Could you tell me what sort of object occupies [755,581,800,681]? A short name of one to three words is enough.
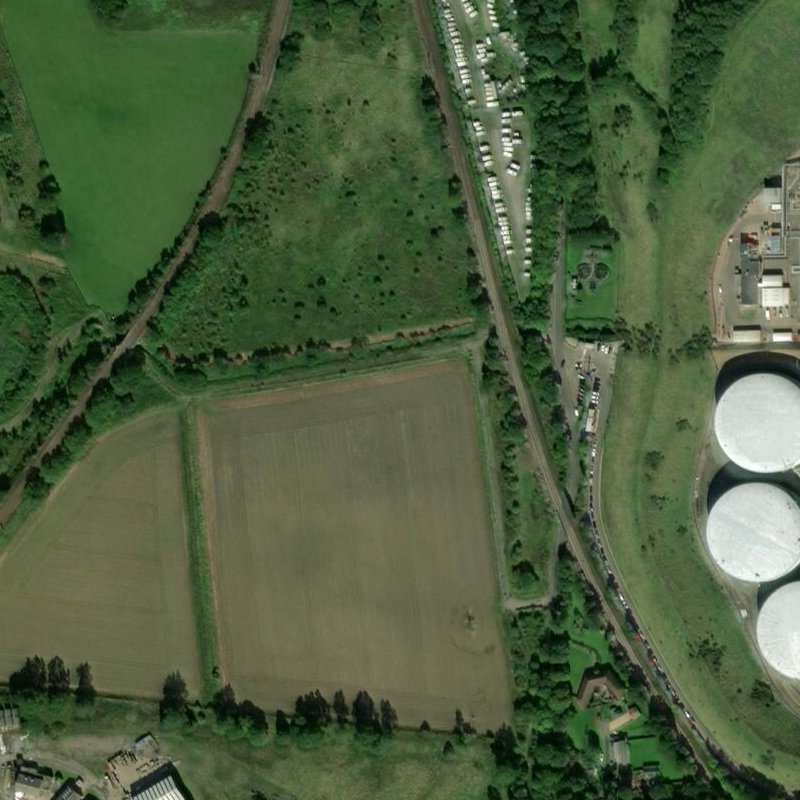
storage tank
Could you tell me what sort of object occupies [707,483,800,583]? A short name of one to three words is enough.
storage tank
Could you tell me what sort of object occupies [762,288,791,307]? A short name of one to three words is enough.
building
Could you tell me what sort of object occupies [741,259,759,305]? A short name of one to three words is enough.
shed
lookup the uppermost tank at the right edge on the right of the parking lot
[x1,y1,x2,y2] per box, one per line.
[715,372,800,473]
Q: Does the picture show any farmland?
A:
Yes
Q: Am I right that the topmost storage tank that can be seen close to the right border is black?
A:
No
